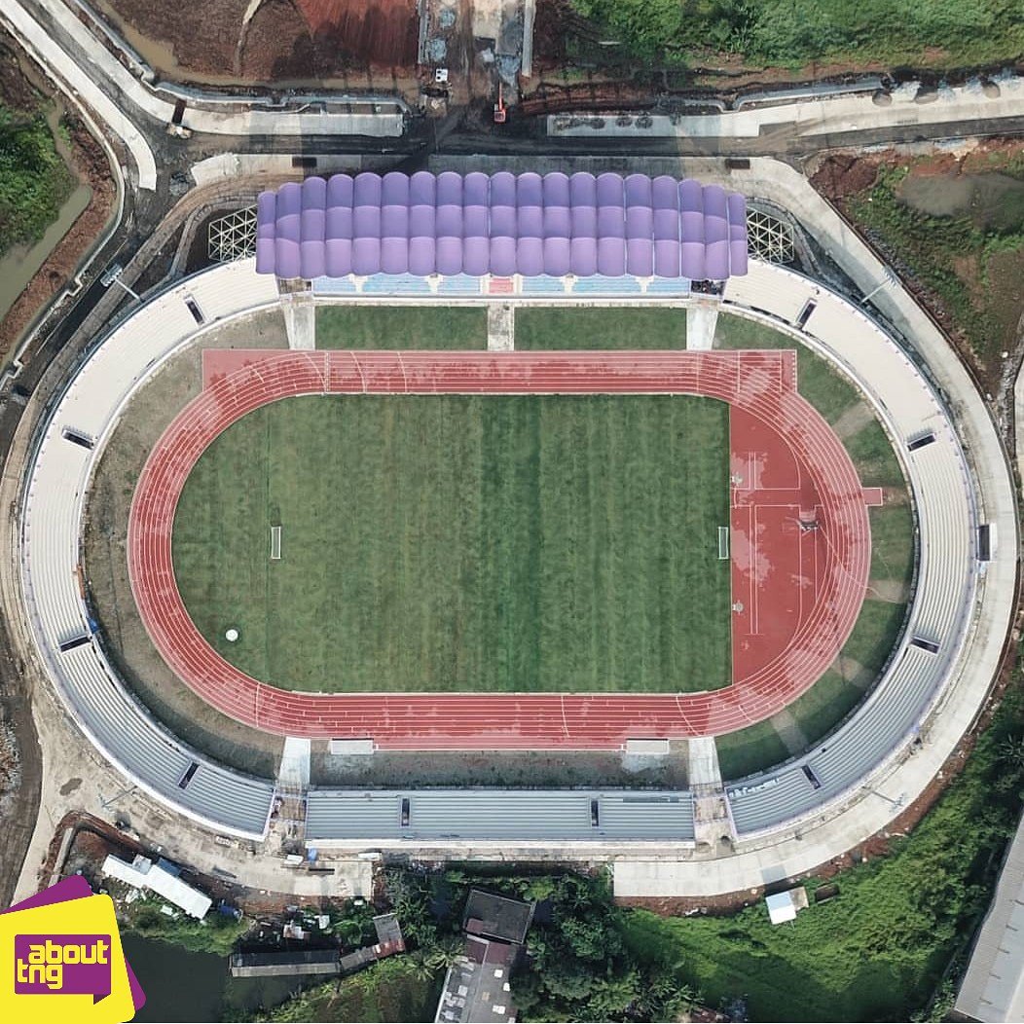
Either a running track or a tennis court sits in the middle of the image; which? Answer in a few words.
running track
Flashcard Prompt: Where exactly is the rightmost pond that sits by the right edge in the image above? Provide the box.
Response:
[897,174,1024,229]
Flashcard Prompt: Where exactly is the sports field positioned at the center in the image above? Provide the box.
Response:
[175,395,733,691]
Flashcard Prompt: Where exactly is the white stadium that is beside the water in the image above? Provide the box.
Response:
[16,170,994,851]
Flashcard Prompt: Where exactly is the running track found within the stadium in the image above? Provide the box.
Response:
[127,348,883,755]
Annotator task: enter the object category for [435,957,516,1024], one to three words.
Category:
house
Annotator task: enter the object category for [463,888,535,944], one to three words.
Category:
house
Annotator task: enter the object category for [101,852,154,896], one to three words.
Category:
shed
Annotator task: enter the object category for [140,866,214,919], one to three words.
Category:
shed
